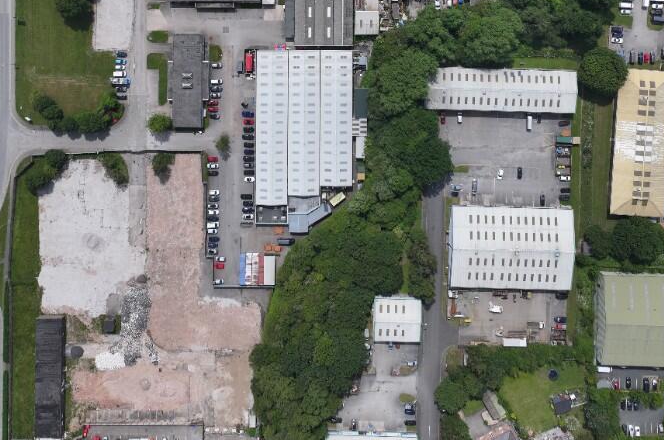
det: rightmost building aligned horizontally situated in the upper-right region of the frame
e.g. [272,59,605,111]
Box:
[426,67,578,113]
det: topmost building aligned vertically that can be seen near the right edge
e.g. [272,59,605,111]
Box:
[605,70,664,217]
